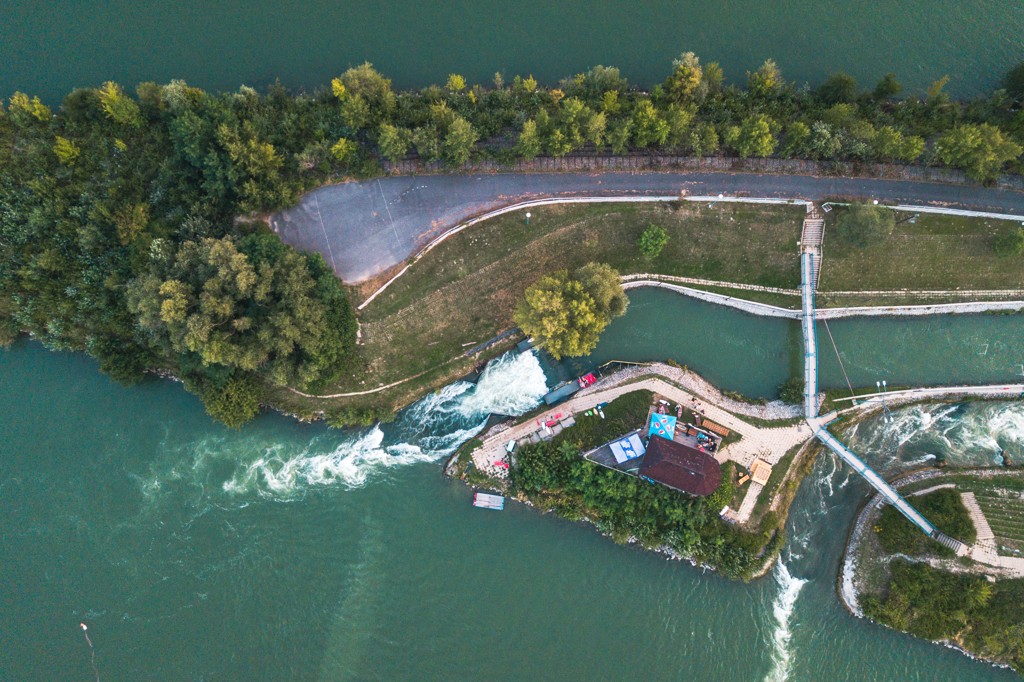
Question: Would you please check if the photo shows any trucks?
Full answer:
No, the scene contains no truck.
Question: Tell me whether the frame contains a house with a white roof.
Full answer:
No, this view has no house with a white roof in it.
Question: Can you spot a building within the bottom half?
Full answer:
Yes, you'll find a building within the bottom half.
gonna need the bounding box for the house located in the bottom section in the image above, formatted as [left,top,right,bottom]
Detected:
[638,435,722,495]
